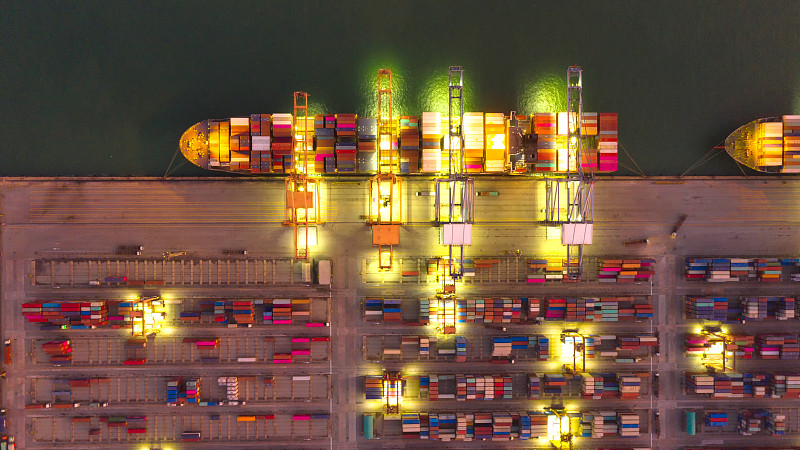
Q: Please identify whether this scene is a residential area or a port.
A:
port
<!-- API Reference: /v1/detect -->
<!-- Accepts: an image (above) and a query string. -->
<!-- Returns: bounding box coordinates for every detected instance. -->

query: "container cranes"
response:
[438,294,457,338]
[430,66,473,279]
[559,330,586,375]
[539,66,598,279]
[130,294,162,338]
[282,91,327,257]
[547,406,573,450]
[367,68,405,268]
[383,370,402,419]
[438,253,457,296]
[702,328,738,373]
